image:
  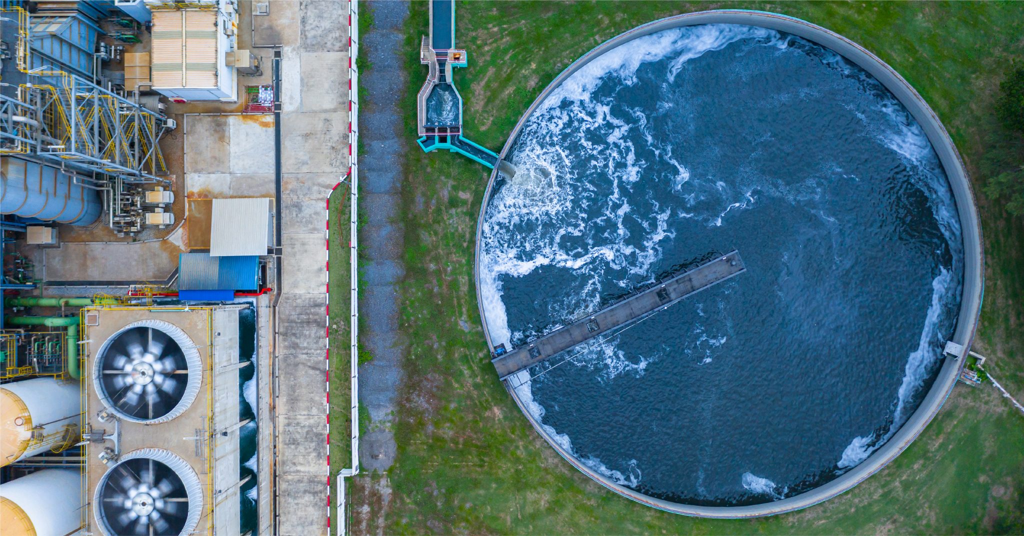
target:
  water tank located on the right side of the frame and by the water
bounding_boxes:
[475,10,984,519]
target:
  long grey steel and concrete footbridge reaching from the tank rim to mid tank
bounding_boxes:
[491,245,748,381]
